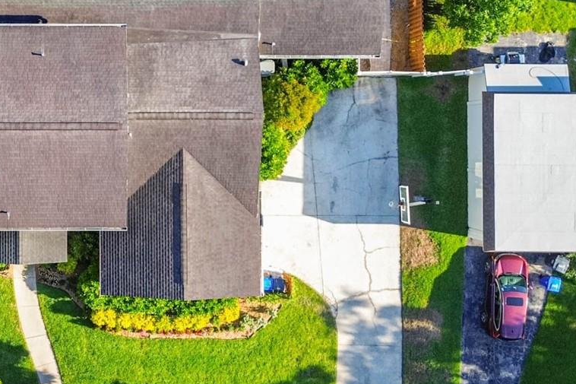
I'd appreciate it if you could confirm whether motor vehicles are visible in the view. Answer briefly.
Yes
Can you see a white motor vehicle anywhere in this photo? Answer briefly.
No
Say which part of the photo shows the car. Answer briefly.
bottom right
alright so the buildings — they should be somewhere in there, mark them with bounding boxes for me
[467,64,576,254]
[0,0,390,301]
